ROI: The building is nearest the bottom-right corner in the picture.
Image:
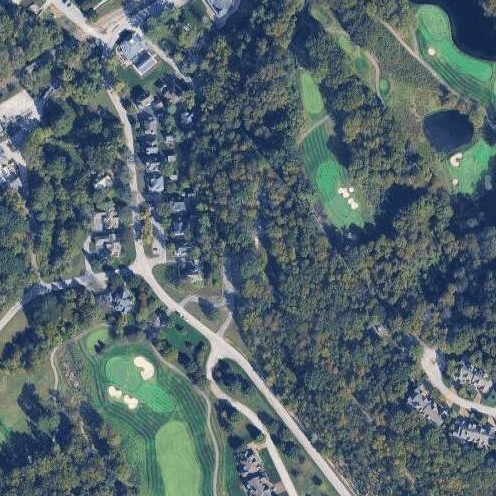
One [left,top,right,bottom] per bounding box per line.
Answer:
[453,420,493,447]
